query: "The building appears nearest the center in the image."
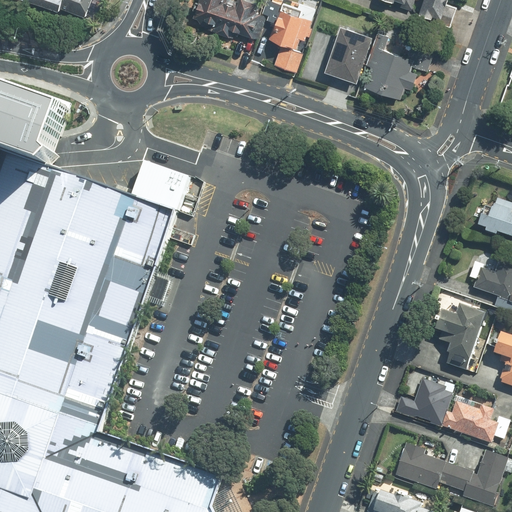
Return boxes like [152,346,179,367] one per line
[132,160,192,213]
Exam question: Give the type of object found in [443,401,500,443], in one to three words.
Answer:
house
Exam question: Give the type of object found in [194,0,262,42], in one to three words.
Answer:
house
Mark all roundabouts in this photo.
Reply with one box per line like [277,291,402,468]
[111,55,148,92]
